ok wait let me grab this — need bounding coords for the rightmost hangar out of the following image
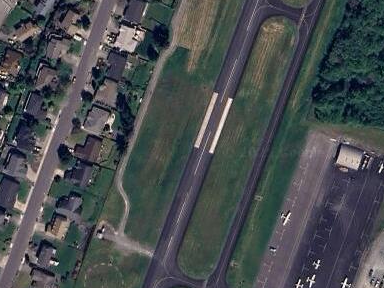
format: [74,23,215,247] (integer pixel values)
[336,144,364,171]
